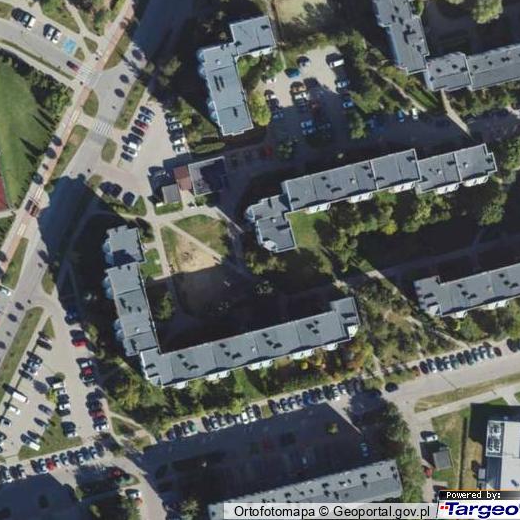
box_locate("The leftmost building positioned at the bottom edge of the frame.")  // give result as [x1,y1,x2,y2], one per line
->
[207,460,403,520]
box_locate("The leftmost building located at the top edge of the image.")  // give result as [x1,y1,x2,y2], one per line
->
[199,17,276,139]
